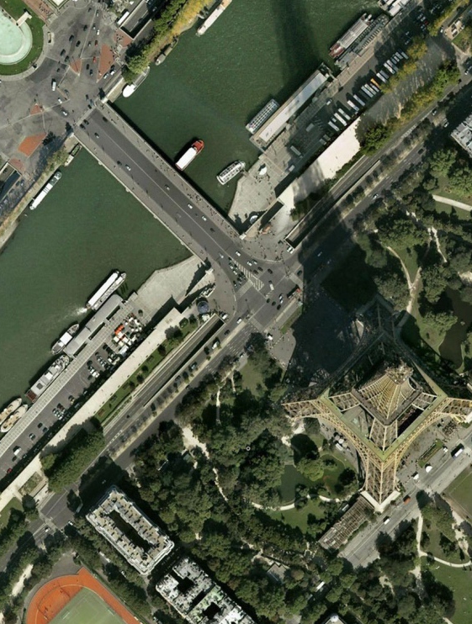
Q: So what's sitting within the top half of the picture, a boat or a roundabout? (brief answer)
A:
boat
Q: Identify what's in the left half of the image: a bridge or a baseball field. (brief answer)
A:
bridge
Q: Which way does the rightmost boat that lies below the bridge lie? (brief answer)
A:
diagonally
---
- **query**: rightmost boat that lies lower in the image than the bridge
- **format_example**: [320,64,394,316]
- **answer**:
[86,270,124,310]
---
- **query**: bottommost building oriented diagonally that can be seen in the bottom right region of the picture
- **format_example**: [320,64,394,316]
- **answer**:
[320,498,374,549]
